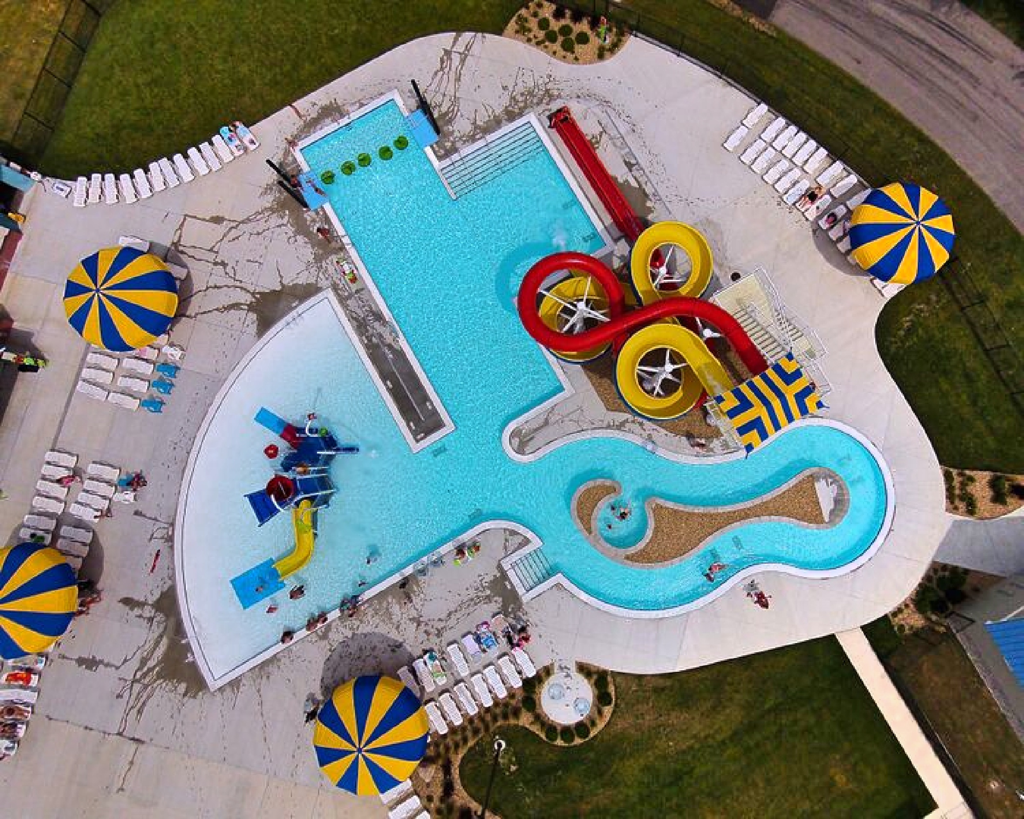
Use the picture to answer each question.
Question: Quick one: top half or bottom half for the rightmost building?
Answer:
bottom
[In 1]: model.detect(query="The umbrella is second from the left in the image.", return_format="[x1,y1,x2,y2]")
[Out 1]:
[68,240,180,358]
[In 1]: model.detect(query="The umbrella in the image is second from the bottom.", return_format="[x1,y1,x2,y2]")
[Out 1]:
[0,542,79,657]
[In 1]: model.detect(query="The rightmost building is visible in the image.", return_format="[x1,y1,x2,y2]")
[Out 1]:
[961,569,1024,696]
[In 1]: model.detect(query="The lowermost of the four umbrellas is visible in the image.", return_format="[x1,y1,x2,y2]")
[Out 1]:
[314,673,432,794]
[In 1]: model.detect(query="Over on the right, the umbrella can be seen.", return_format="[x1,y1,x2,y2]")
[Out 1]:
[846,186,954,285]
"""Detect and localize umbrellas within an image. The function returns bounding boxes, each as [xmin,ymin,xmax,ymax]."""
[0,542,79,657]
[846,186,954,285]
[68,240,180,358]
[314,673,432,794]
